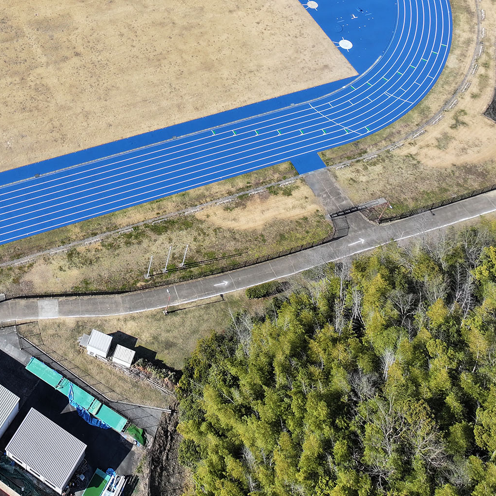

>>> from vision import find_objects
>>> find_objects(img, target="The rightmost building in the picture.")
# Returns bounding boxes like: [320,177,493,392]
[111,342,136,370]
